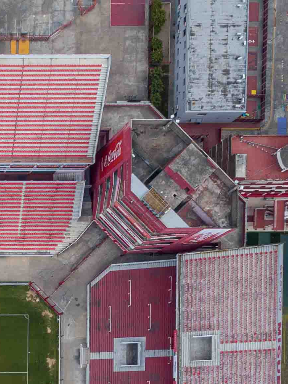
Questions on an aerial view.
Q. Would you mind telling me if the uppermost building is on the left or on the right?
right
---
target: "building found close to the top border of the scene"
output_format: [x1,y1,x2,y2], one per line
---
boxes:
[174,0,247,121]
